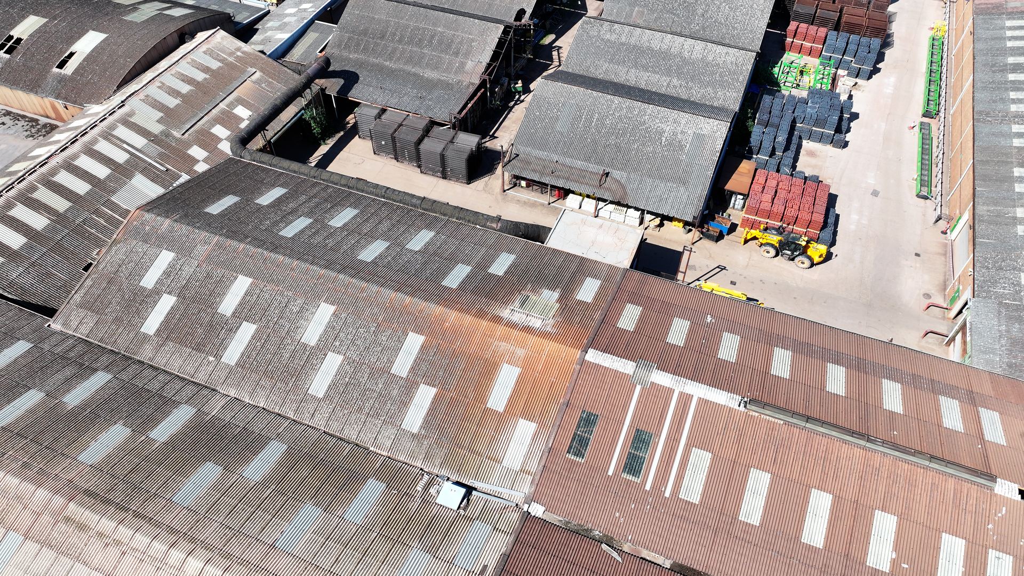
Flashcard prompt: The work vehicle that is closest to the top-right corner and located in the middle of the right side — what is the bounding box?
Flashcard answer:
[736,221,832,268]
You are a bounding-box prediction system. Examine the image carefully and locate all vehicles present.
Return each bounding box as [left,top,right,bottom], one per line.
[736,221,832,268]
[694,283,769,307]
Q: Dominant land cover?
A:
buildings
